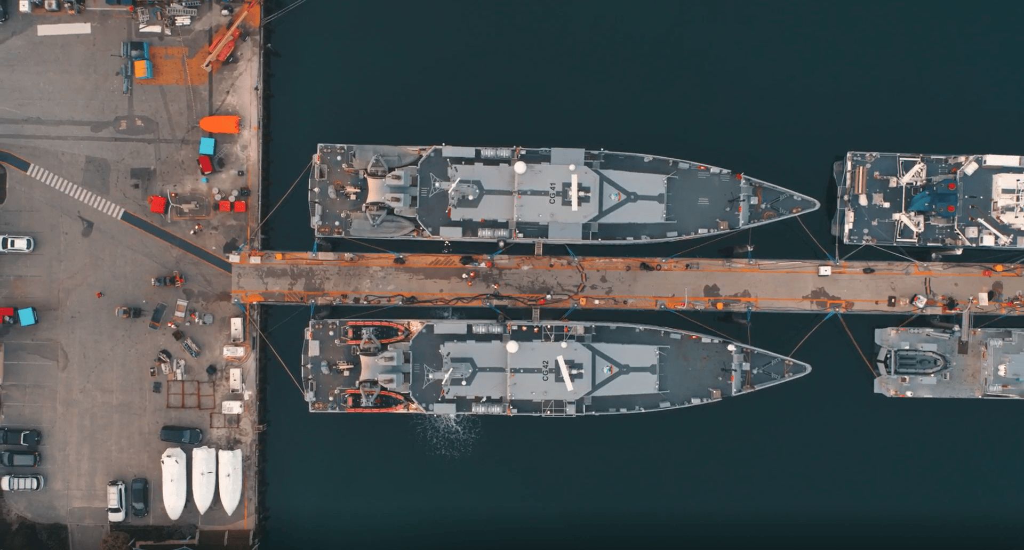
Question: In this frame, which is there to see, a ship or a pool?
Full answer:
The one in the frame is a ship.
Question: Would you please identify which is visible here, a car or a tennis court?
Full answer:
Looking from above, you can make out a car.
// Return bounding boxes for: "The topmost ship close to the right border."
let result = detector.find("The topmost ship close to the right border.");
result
[829,152,1024,248]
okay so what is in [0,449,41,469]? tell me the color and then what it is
gray car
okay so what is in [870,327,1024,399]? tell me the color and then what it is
gray vessel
